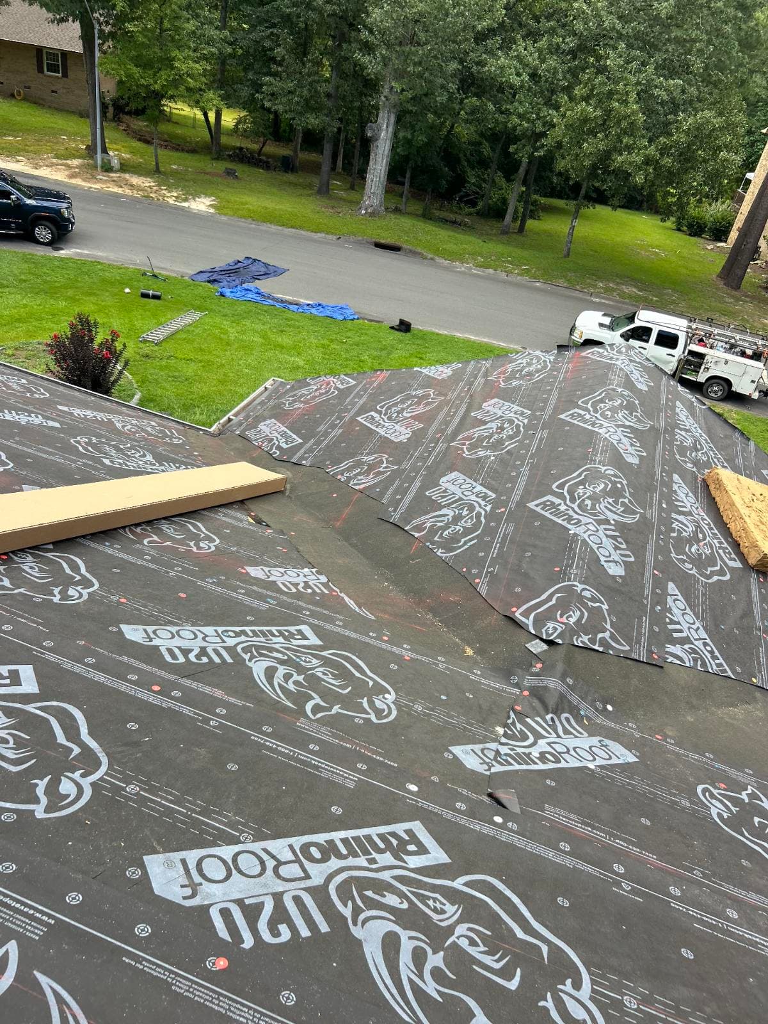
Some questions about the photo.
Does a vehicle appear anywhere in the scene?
Yes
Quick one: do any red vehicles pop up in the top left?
No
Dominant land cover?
buildings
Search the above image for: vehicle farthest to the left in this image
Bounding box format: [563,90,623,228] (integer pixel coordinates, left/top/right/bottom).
[0,165,81,244]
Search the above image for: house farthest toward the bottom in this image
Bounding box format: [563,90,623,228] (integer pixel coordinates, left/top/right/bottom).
[0,341,768,1024]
